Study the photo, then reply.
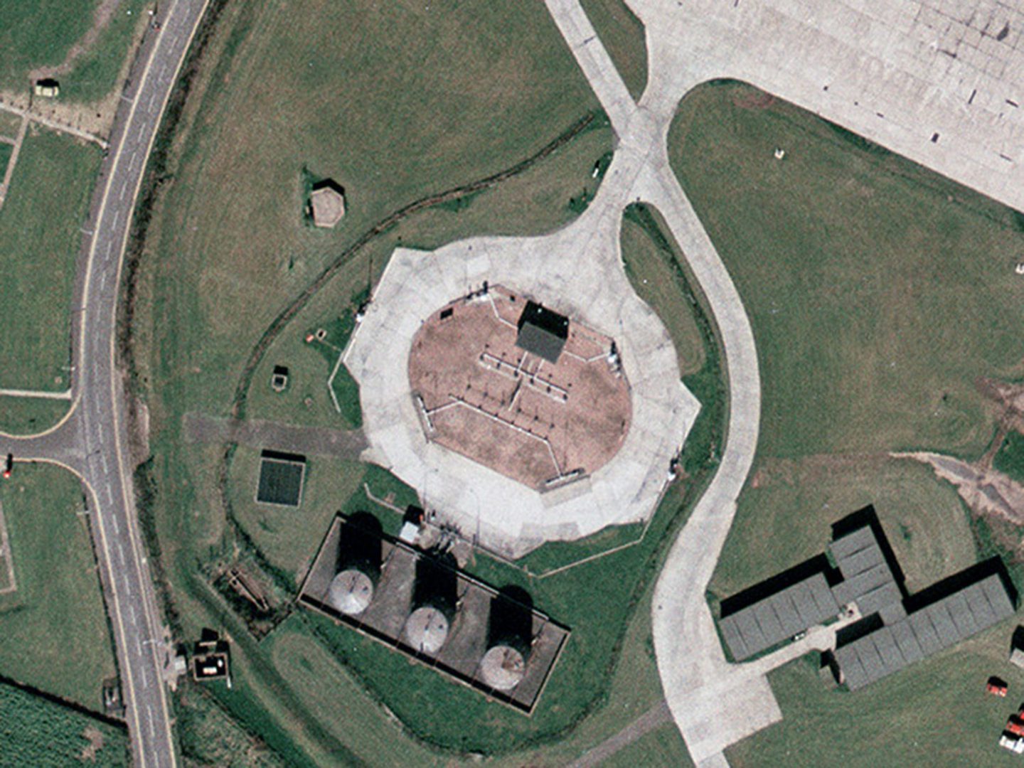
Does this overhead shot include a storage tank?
Yes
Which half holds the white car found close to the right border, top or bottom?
bottom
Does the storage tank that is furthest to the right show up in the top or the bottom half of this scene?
bottom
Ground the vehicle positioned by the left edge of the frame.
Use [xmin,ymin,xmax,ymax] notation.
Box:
[35,85,59,98]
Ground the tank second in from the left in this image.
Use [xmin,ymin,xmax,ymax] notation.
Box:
[329,536,384,615]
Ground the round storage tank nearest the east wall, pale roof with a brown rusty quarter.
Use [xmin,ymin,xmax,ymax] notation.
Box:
[481,610,534,690]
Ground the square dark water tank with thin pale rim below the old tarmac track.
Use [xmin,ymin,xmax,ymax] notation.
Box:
[257,454,307,506]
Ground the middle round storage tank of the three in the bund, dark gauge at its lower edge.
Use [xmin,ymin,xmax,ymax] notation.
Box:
[405,573,459,653]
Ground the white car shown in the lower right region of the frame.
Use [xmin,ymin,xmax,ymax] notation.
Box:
[1001,735,1024,755]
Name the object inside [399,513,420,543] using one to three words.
shed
